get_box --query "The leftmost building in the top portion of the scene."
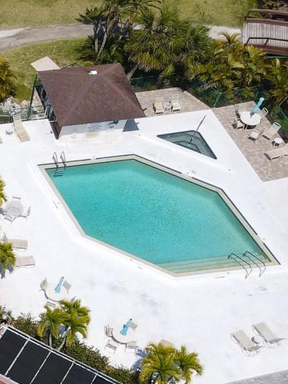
[34,65,142,146]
